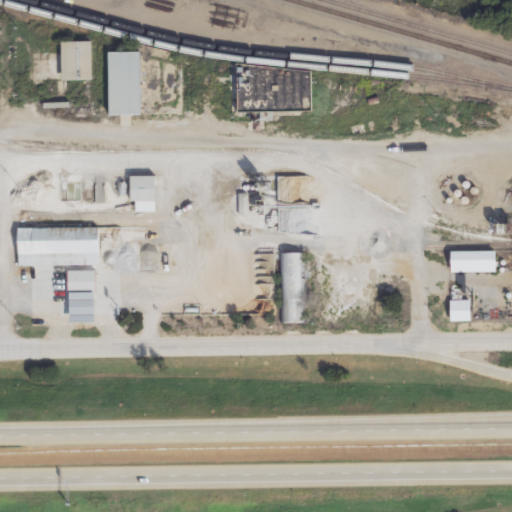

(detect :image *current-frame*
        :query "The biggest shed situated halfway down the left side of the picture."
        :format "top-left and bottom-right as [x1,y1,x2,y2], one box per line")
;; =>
[16,226,98,266]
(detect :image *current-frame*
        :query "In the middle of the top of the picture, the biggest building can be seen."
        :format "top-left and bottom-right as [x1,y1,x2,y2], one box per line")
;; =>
[231,66,312,120]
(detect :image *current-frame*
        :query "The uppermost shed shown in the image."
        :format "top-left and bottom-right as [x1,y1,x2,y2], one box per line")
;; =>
[60,40,92,80]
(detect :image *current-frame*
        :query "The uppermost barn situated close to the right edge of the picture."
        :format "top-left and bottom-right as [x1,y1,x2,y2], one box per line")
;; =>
[451,250,496,273]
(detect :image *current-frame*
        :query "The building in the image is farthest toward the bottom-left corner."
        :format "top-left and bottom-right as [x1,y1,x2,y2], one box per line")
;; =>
[68,292,94,322]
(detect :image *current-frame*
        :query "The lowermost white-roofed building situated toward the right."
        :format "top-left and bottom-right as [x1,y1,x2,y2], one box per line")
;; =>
[450,300,472,322]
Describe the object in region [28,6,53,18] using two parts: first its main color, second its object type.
white rail car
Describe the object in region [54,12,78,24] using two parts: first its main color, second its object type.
white rail car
